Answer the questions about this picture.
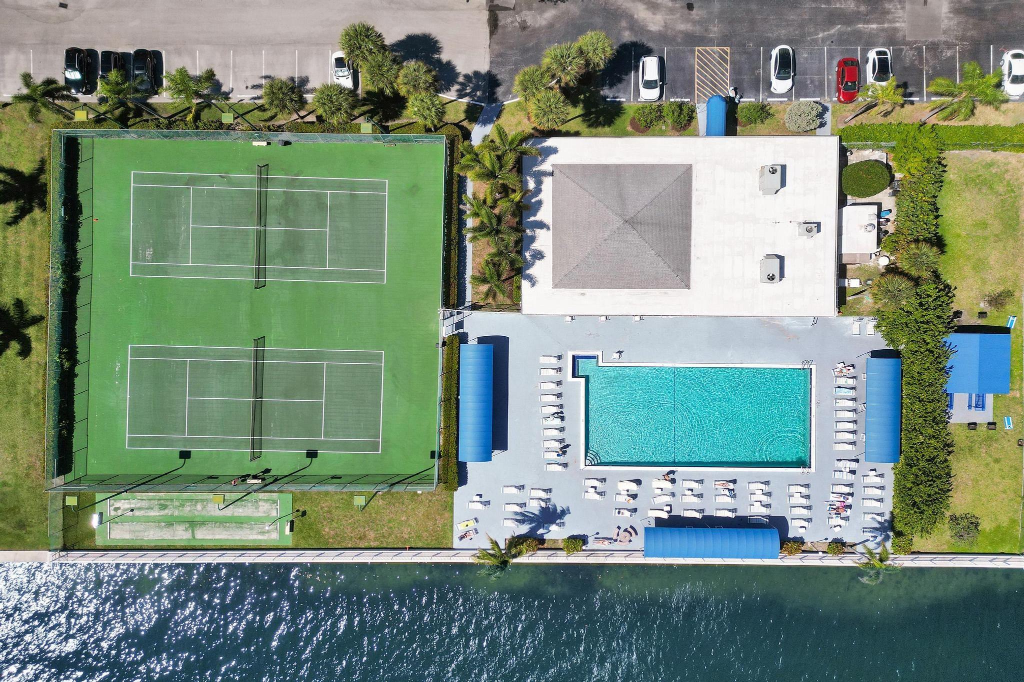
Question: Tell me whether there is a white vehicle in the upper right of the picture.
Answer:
Yes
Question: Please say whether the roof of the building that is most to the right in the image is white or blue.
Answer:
blue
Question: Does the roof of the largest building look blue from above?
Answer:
No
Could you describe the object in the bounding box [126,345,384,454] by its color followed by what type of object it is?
green tennis court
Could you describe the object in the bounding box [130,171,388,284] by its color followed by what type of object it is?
green tennis court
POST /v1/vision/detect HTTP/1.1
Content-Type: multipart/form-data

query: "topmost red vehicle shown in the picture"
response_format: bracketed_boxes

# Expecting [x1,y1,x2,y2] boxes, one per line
[834,57,861,102]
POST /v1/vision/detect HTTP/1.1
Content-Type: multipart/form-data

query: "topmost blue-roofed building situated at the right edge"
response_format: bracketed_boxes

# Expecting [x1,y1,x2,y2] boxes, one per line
[938,333,1010,394]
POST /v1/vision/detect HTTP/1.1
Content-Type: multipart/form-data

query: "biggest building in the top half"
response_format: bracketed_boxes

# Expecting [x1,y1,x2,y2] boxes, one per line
[521,136,839,317]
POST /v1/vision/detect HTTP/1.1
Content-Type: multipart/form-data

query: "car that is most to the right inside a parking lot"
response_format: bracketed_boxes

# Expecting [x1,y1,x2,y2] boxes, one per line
[999,48,1024,97]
